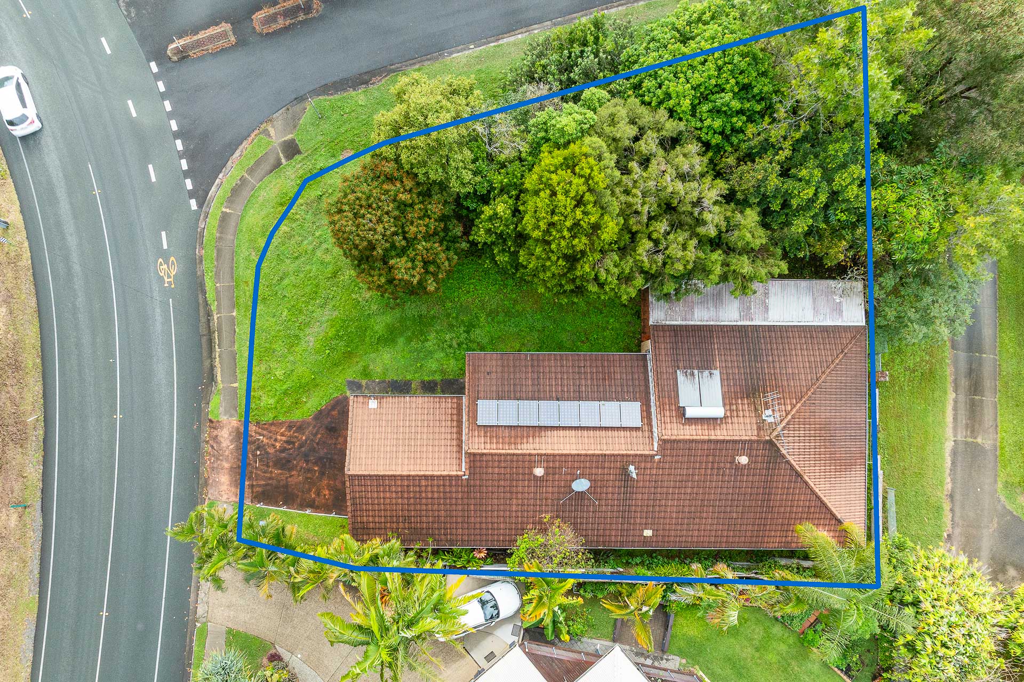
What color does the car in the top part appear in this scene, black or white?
white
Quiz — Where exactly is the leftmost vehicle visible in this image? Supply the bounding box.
[0,60,43,132]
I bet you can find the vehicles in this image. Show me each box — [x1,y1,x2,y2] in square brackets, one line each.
[0,60,43,132]
[446,581,523,645]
